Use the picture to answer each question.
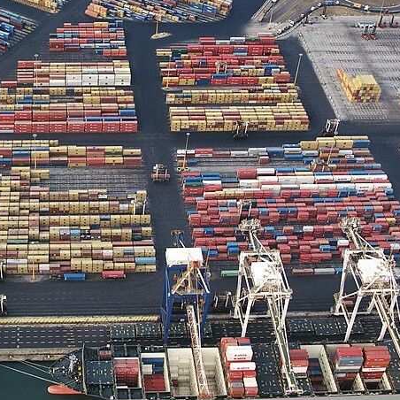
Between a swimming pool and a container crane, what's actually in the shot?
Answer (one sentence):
Of the two, only a container crane appears.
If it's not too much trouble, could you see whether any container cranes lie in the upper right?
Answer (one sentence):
No, I can find no container crane in the upper right.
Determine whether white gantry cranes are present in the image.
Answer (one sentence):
Yes, a white gantry crane can be made out from above.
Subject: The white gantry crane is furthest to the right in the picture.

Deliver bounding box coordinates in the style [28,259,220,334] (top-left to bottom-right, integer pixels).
[337,217,400,353]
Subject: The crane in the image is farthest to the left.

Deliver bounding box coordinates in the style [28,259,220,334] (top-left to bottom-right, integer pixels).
[156,213,216,397]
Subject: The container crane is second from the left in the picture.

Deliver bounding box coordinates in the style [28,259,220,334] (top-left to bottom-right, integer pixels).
[233,219,301,388]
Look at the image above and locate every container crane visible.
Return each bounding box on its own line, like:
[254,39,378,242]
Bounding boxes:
[337,217,400,353]
[156,213,216,397]
[233,219,301,388]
